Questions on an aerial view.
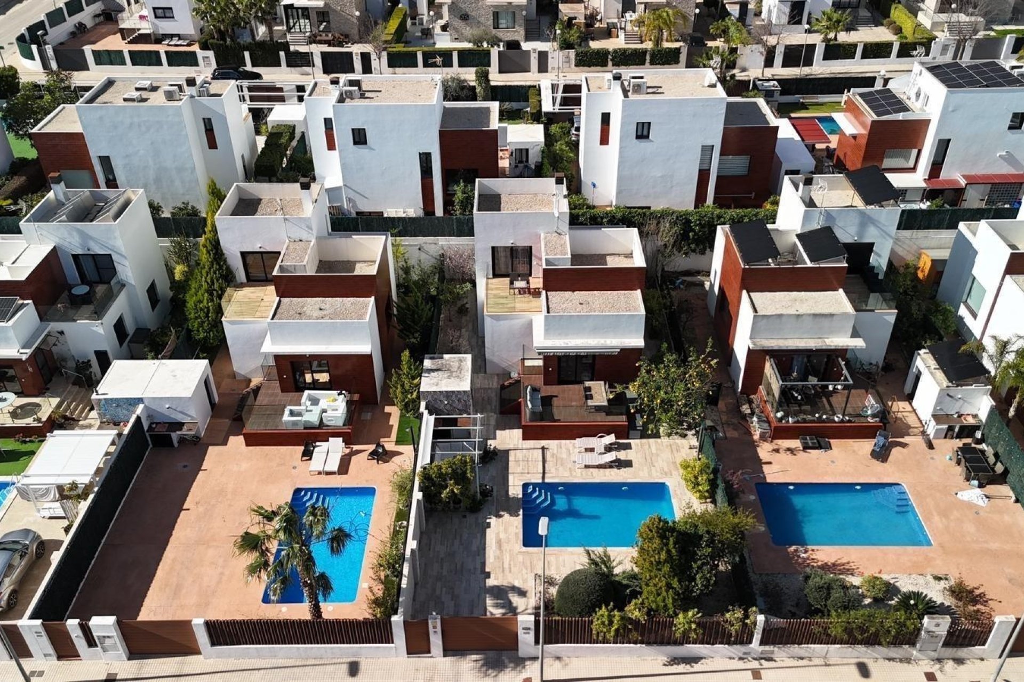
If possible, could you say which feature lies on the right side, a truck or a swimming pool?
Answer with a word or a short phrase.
swimming pool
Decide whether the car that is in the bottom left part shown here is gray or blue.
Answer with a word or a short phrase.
gray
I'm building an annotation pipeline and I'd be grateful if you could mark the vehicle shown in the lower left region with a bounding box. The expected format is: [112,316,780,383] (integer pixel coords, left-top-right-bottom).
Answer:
[0,530,42,613]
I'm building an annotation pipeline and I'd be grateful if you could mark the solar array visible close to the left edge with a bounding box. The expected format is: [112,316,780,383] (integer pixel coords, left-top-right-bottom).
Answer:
[0,299,26,329]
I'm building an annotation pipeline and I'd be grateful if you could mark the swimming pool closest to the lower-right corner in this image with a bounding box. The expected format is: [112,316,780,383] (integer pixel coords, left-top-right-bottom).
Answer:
[754,482,935,548]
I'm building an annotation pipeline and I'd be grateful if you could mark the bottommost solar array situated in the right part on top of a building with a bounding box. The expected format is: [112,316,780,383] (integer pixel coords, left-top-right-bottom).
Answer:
[857,90,917,118]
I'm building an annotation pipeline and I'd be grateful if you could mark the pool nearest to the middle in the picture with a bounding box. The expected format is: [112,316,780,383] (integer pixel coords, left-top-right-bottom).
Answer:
[520,482,678,550]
